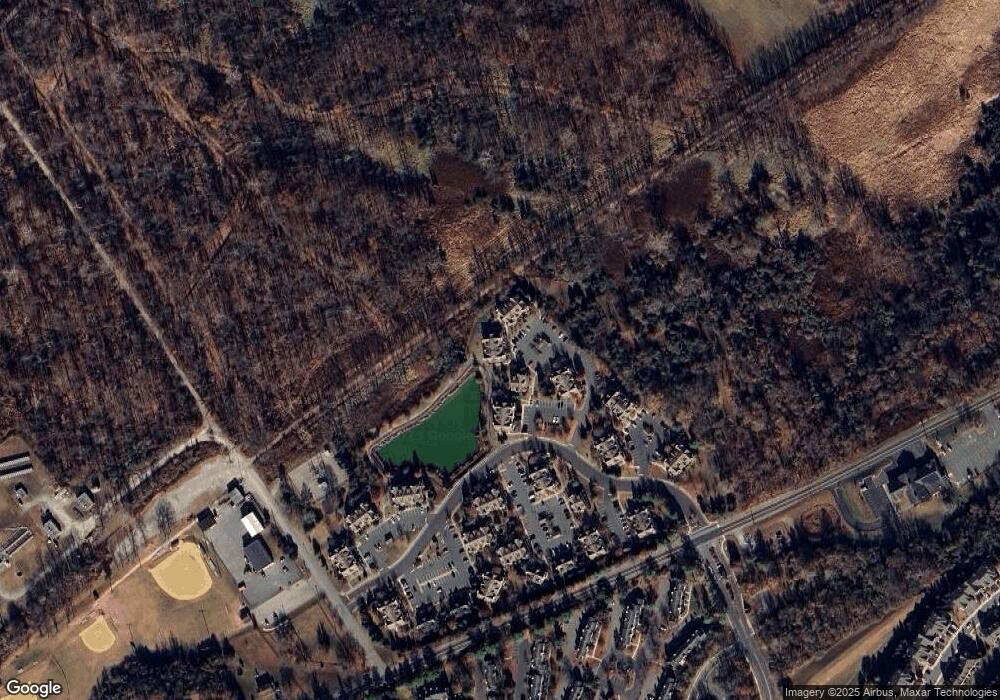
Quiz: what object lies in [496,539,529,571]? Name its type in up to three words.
building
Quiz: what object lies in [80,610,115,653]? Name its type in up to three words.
baseball field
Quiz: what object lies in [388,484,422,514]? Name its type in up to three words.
building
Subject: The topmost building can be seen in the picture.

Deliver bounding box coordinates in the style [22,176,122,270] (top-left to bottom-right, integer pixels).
[495,296,533,332]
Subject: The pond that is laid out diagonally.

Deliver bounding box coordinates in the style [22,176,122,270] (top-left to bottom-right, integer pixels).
[378,377,480,471]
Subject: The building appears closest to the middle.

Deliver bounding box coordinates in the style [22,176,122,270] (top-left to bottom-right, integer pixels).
[480,335,505,363]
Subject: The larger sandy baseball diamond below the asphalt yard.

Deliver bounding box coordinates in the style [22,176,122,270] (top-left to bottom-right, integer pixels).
[149,531,212,600]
